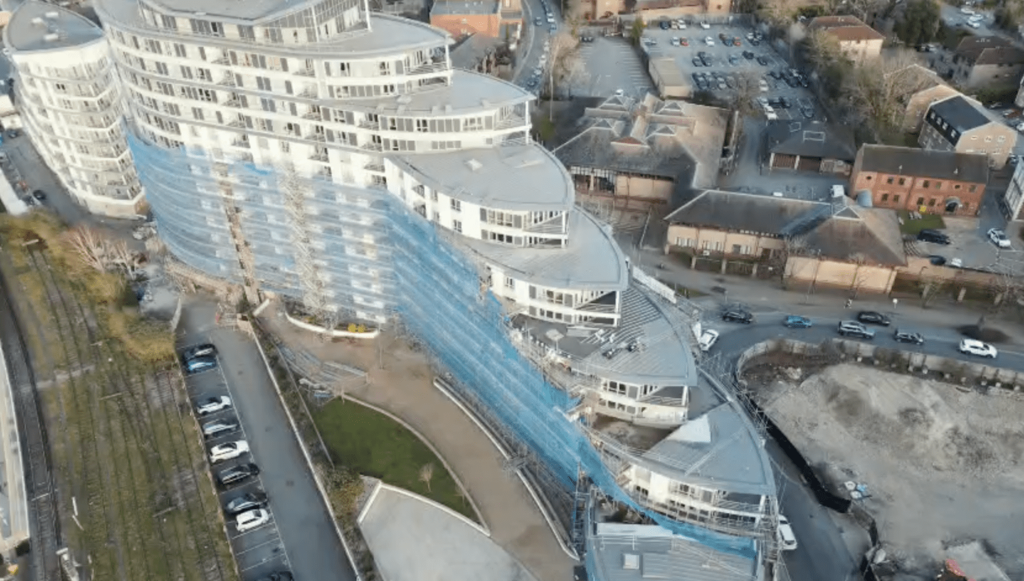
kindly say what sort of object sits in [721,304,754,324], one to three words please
car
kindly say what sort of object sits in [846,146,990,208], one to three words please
house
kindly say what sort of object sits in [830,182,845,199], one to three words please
vehicle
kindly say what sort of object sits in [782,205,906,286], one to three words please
building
